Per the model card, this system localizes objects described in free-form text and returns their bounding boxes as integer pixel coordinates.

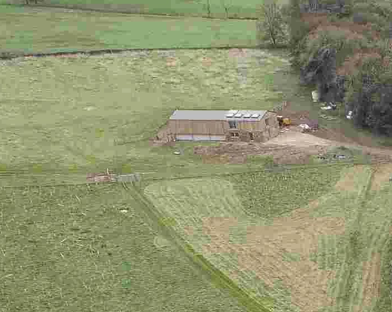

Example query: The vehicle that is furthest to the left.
[272,114,293,127]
